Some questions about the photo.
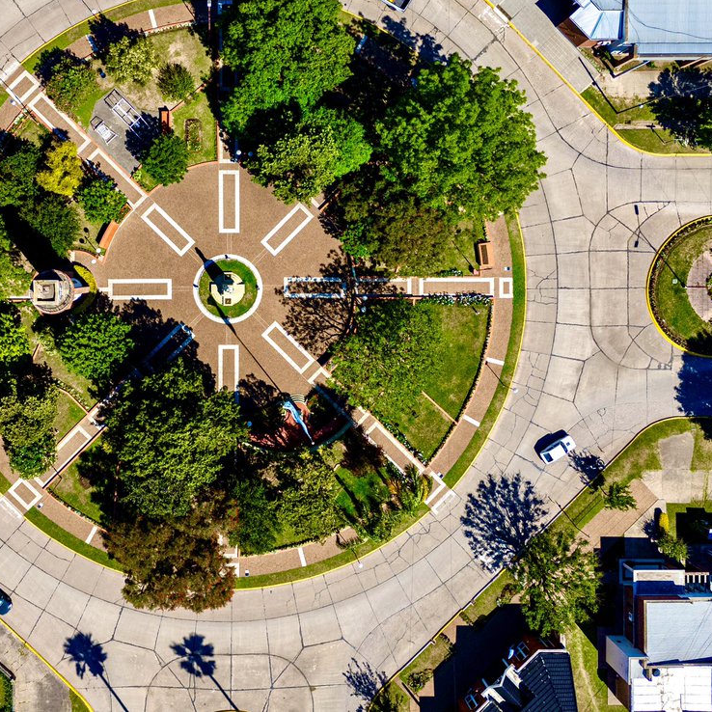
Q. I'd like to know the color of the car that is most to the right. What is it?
white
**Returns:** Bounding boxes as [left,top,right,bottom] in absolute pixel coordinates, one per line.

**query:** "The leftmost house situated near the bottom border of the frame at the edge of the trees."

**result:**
[449,635,576,712]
